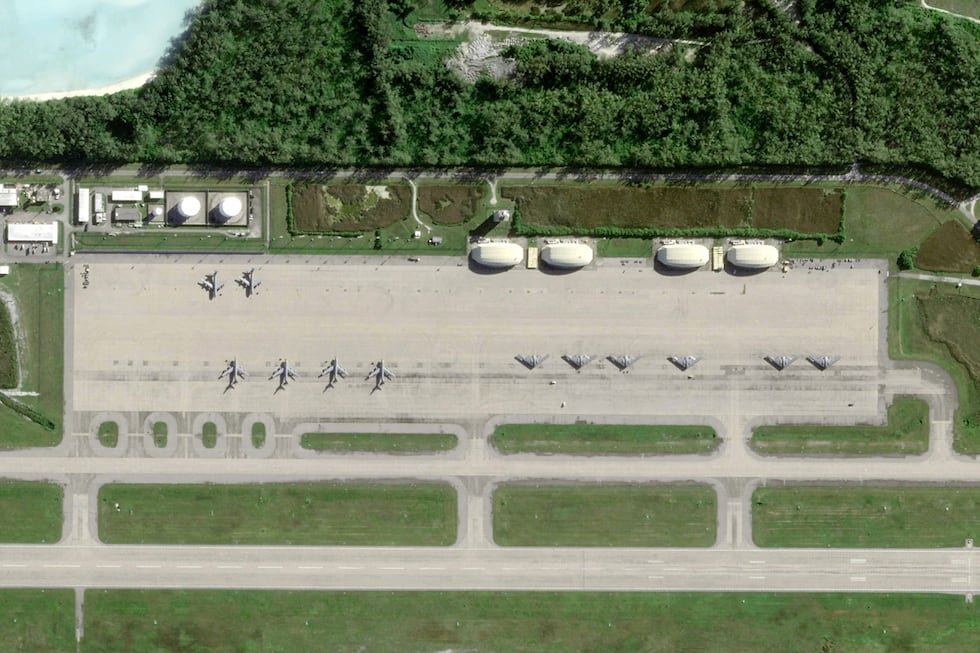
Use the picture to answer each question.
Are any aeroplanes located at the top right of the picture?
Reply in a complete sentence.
No, no aeroplane appears at the top right of the picture.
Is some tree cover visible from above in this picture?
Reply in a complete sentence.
Yes, some tree cover is visible.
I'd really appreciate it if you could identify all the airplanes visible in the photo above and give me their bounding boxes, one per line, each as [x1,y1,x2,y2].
[611,355,639,368]
[368,358,396,386]
[201,270,230,298]
[812,354,839,368]
[238,267,267,296]
[520,354,548,368]
[272,357,301,385]
[322,356,350,384]
[567,355,595,368]
[221,355,250,384]
[768,355,797,368]
[673,355,701,368]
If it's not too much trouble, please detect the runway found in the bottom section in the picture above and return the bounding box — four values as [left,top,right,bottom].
[0,546,980,593]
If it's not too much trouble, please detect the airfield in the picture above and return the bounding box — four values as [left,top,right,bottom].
[0,236,980,653]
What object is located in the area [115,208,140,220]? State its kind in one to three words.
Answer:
building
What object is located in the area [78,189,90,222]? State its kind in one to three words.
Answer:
building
